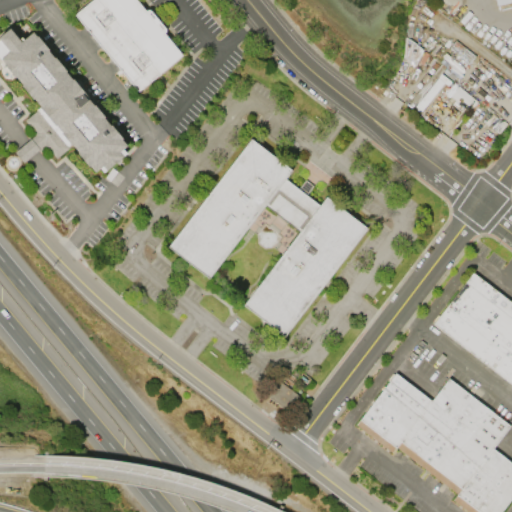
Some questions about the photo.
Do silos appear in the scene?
No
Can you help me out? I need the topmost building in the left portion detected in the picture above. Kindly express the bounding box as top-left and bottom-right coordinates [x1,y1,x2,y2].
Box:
[76,0,184,92]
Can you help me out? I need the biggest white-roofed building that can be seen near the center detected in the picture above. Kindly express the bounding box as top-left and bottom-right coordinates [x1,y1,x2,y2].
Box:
[169,138,370,334]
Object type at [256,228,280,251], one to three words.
gazebo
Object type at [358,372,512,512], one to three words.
building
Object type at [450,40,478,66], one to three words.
shed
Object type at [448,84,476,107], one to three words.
shed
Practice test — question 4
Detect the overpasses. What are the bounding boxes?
[0,454,286,512]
